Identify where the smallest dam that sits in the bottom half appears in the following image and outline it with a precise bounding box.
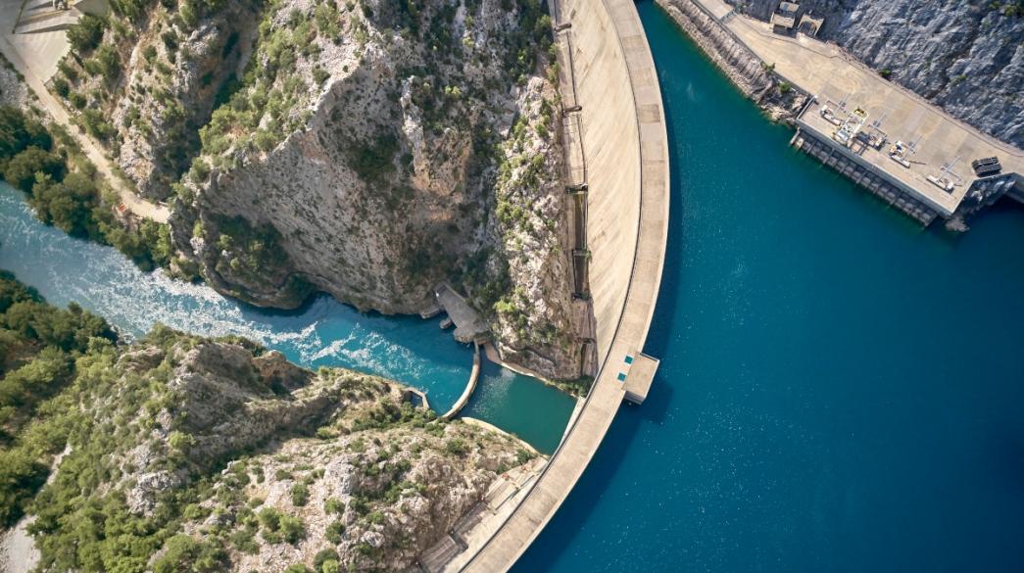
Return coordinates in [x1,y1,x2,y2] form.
[441,341,481,419]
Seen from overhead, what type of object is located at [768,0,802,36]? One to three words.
building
